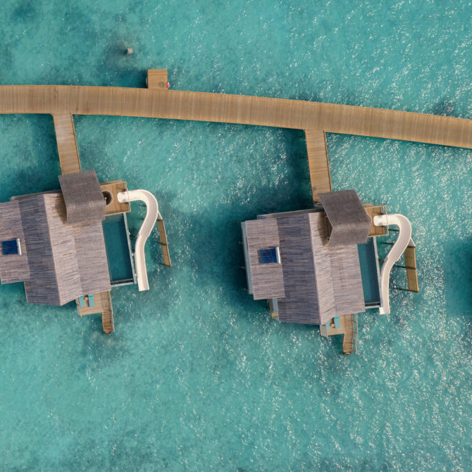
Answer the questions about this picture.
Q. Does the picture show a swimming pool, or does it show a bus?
swimming pool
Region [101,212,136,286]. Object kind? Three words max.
swimming pool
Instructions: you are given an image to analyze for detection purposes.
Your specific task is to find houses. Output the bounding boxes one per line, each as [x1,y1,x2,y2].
[234,190,389,355]
[0,169,131,333]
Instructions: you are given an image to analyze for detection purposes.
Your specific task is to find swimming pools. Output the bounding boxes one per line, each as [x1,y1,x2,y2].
[359,238,382,307]
[101,212,136,286]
